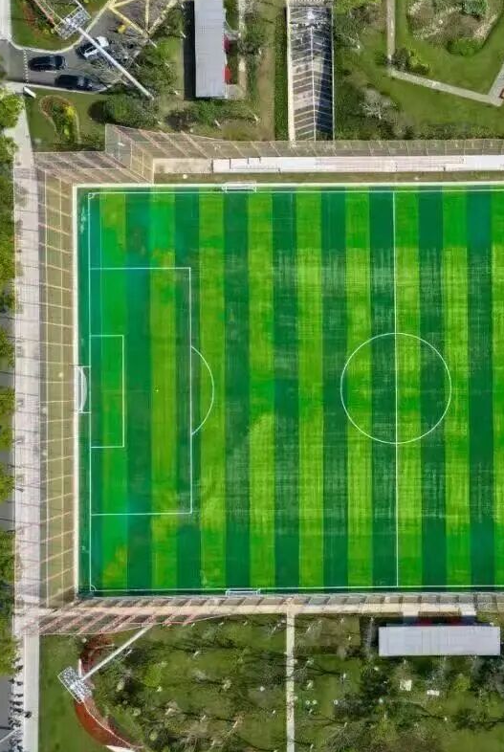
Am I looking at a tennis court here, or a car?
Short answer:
car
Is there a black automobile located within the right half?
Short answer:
No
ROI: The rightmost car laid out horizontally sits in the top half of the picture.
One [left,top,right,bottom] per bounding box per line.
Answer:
[54,71,92,90]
